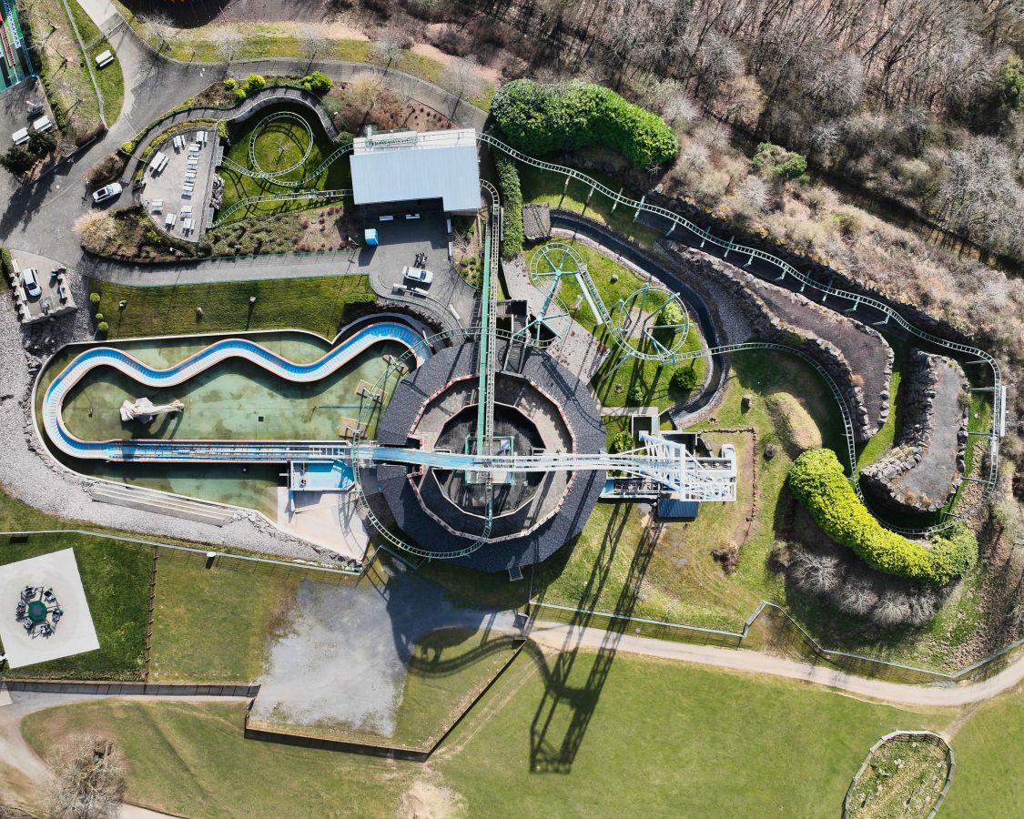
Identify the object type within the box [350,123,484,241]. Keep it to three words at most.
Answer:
building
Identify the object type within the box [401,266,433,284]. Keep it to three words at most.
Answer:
vehicle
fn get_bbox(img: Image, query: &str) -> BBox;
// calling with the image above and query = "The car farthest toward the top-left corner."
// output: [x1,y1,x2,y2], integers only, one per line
[88,181,122,202]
